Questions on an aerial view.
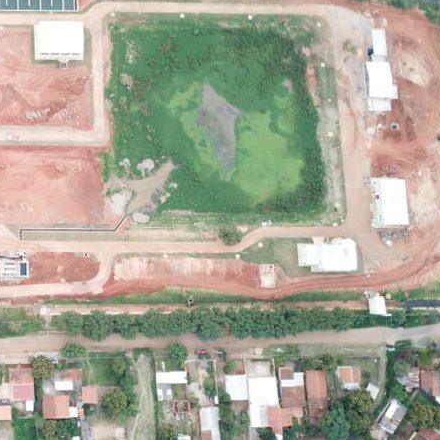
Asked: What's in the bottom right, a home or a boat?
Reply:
home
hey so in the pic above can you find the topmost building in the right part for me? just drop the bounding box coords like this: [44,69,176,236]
[367,28,388,57]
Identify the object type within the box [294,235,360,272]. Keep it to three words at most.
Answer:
building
